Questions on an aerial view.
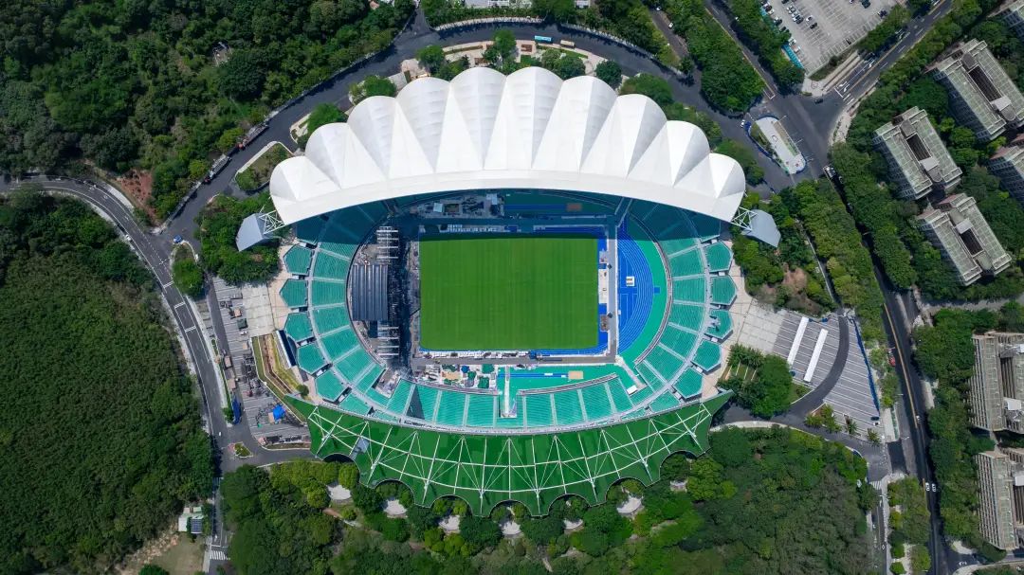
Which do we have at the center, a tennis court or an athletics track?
athletics track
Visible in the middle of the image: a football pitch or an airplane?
football pitch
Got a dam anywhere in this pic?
No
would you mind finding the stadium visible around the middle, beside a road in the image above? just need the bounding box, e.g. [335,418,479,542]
[236,67,781,516]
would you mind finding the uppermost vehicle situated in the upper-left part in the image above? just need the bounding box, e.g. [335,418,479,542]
[240,123,271,145]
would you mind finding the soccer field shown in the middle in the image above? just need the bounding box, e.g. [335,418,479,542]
[420,234,598,352]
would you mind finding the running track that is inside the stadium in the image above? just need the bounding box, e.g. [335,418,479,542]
[372,225,659,358]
